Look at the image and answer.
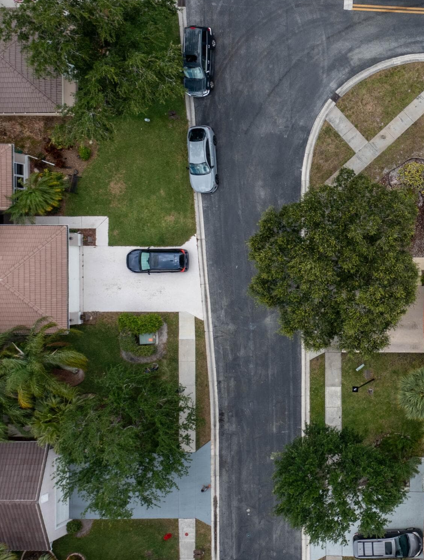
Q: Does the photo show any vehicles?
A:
Yes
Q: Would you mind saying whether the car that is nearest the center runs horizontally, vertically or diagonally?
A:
horizontally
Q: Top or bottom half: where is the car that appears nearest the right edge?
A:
bottom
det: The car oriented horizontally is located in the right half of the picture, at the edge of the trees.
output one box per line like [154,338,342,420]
[346,527,421,560]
